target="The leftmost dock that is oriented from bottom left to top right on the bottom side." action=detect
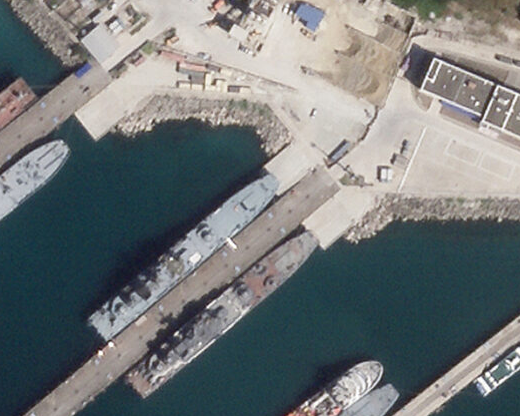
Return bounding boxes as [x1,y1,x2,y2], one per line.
[25,165,340,416]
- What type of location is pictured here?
port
